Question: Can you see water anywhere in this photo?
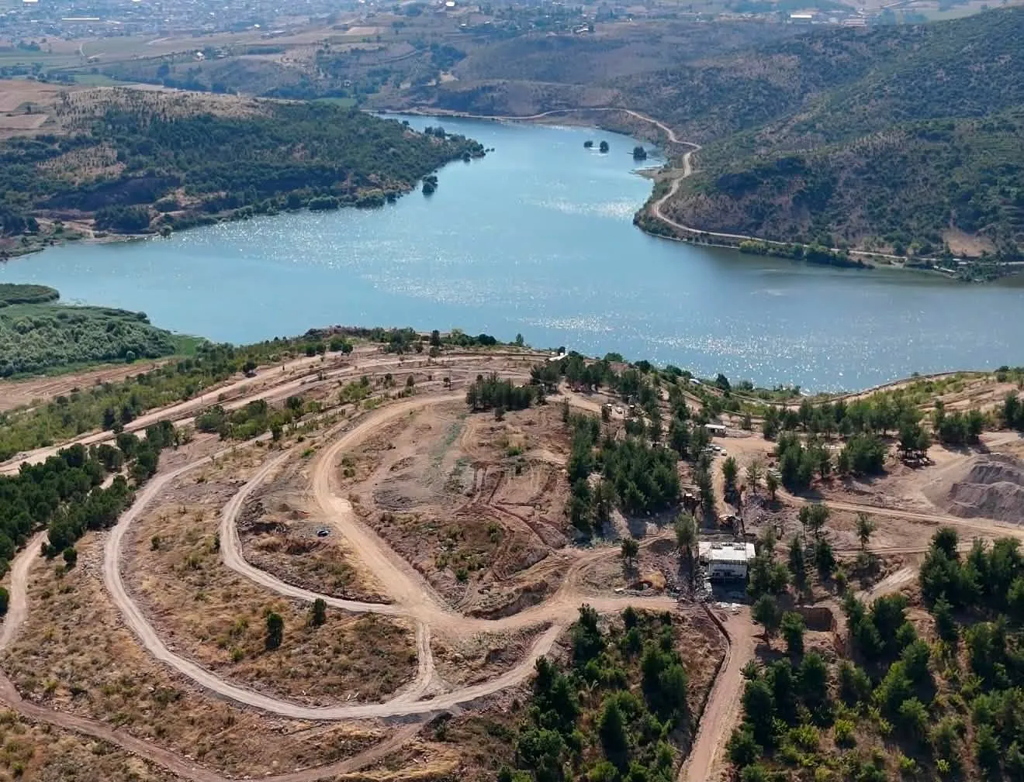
Yes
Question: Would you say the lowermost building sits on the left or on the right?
right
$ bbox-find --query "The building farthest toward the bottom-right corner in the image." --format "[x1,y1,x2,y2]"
[697,544,756,584]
